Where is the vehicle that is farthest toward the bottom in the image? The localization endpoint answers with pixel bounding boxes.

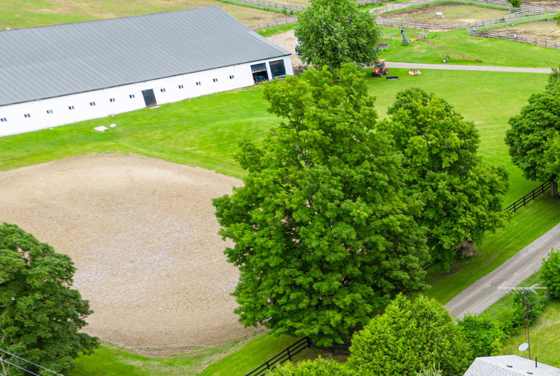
[364,60,387,78]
